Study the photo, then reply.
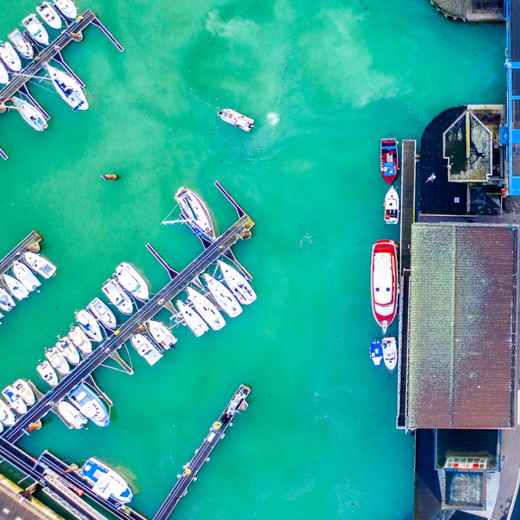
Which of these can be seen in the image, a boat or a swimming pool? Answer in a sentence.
The one in the frame is a boat.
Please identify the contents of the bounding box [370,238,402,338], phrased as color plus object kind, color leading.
white ship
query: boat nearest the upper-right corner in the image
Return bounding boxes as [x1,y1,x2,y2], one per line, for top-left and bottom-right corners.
[381,138,399,184]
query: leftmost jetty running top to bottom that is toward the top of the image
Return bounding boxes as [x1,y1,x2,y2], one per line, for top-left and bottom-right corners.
[402,140,417,271]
